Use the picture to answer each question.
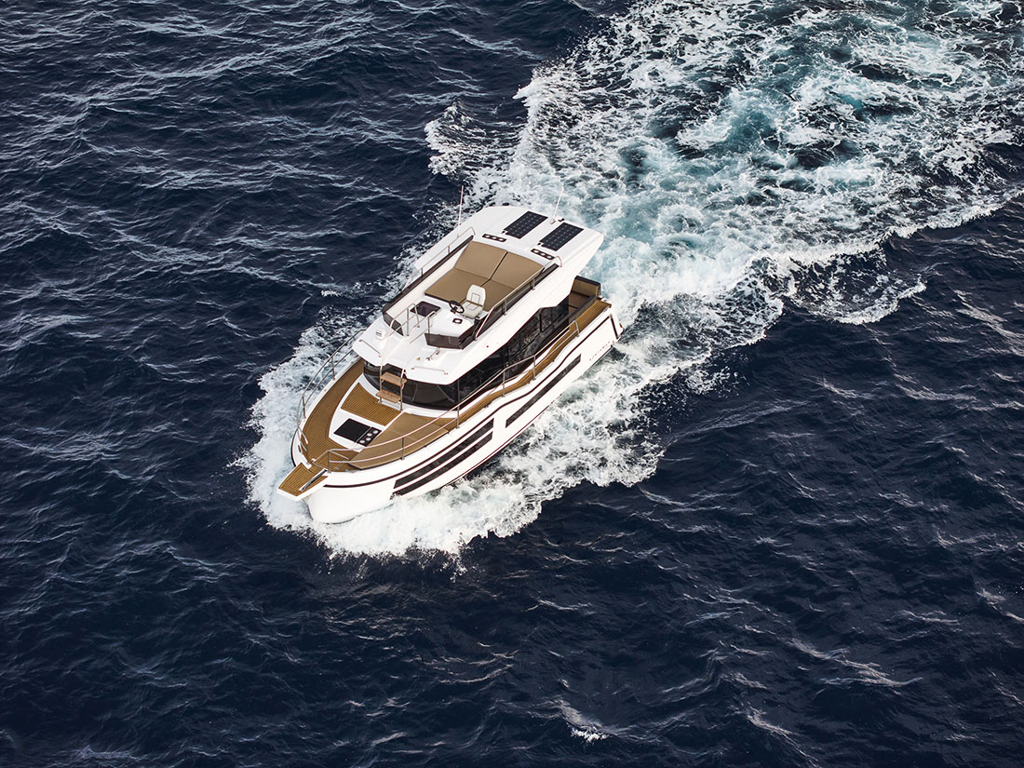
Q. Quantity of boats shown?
1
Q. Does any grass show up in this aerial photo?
No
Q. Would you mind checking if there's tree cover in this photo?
No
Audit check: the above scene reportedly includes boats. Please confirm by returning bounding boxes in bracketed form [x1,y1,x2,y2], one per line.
[276,185,624,525]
